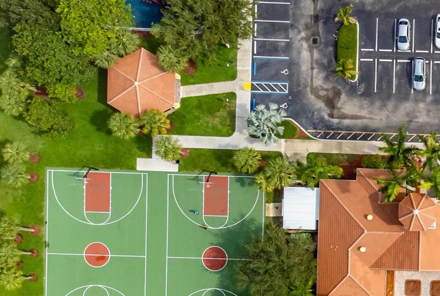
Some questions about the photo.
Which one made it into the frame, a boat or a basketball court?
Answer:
basketball court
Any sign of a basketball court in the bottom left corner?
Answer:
Yes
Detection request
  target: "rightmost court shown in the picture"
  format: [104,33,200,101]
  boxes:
[155,171,266,296]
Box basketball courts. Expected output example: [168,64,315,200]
[44,168,157,296]
[155,171,266,296]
